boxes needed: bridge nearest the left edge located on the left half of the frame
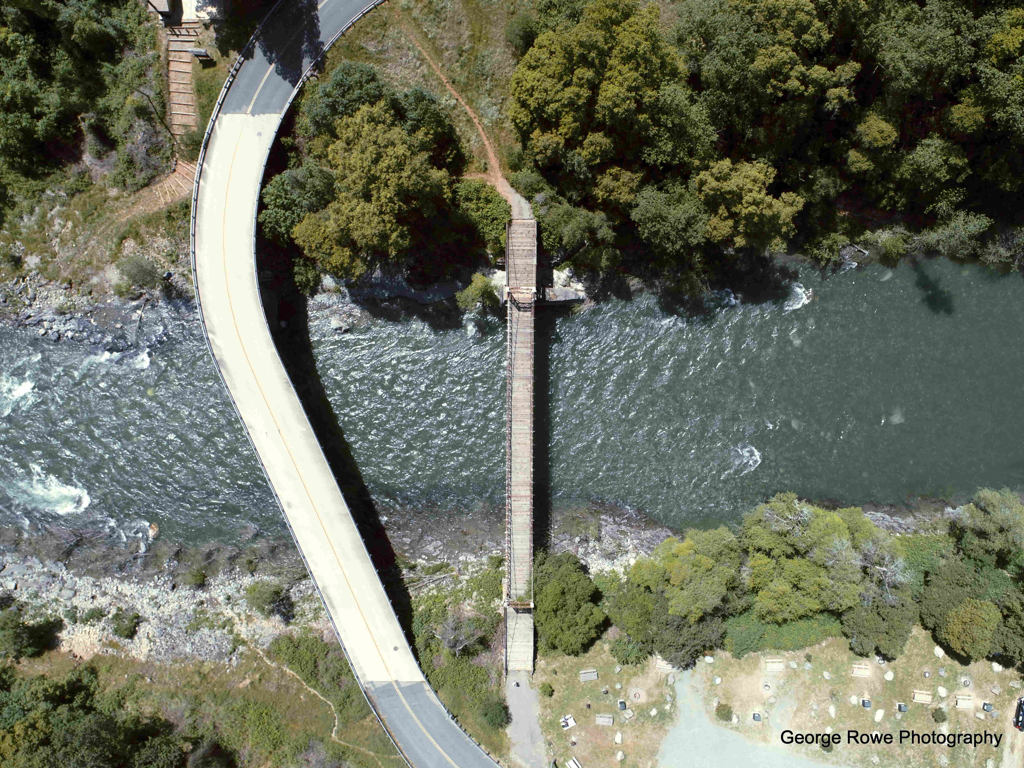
[190,87,440,702]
